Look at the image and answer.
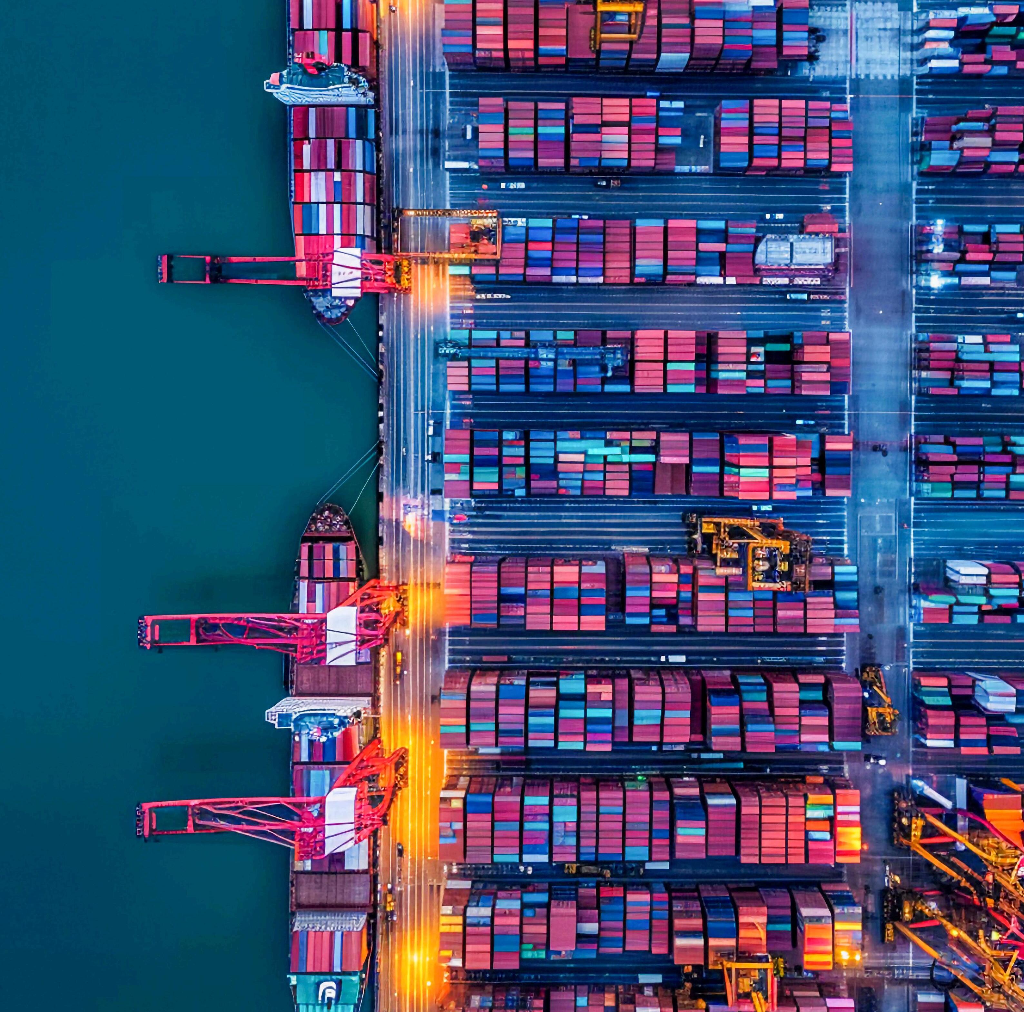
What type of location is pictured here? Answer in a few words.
port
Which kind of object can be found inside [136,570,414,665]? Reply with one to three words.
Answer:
container crane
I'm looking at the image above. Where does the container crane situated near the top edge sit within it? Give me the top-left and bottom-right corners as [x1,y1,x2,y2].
[595,1,643,63]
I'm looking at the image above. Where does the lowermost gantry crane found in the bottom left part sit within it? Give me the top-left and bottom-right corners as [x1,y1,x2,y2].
[134,733,414,857]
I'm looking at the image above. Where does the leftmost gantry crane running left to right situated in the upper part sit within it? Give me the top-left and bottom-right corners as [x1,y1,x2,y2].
[156,242,414,317]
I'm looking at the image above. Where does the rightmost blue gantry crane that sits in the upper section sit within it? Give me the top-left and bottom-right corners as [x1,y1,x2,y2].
[438,342,629,376]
